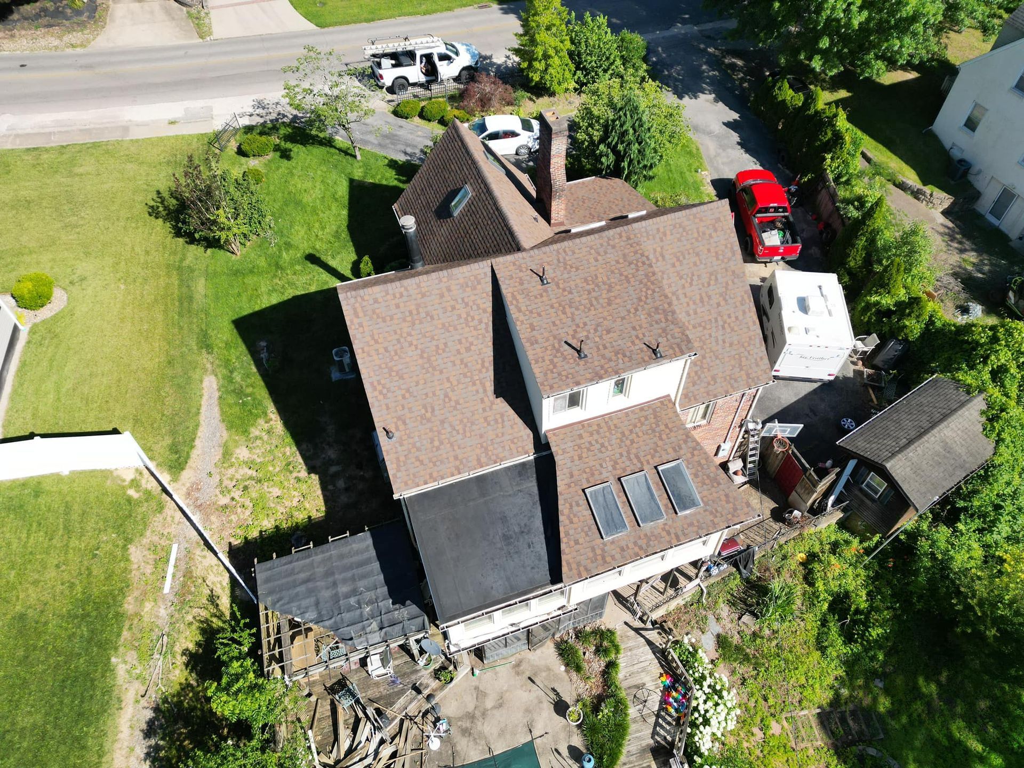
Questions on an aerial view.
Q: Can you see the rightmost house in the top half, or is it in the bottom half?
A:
top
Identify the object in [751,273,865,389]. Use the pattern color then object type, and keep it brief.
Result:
white vehicle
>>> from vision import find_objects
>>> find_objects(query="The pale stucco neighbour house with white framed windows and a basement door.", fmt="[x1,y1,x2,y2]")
[918,14,1024,244]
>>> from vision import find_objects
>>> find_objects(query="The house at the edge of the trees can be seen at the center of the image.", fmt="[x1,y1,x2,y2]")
[332,112,778,672]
